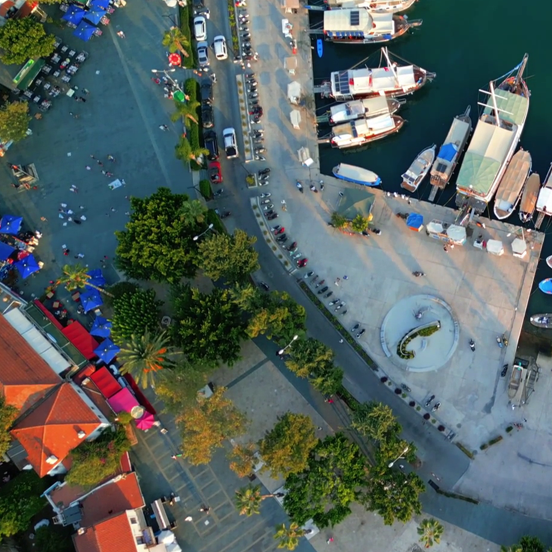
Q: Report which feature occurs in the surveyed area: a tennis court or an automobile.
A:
automobile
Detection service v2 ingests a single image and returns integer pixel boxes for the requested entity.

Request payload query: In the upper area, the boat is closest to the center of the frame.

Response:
[332,161,391,185]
